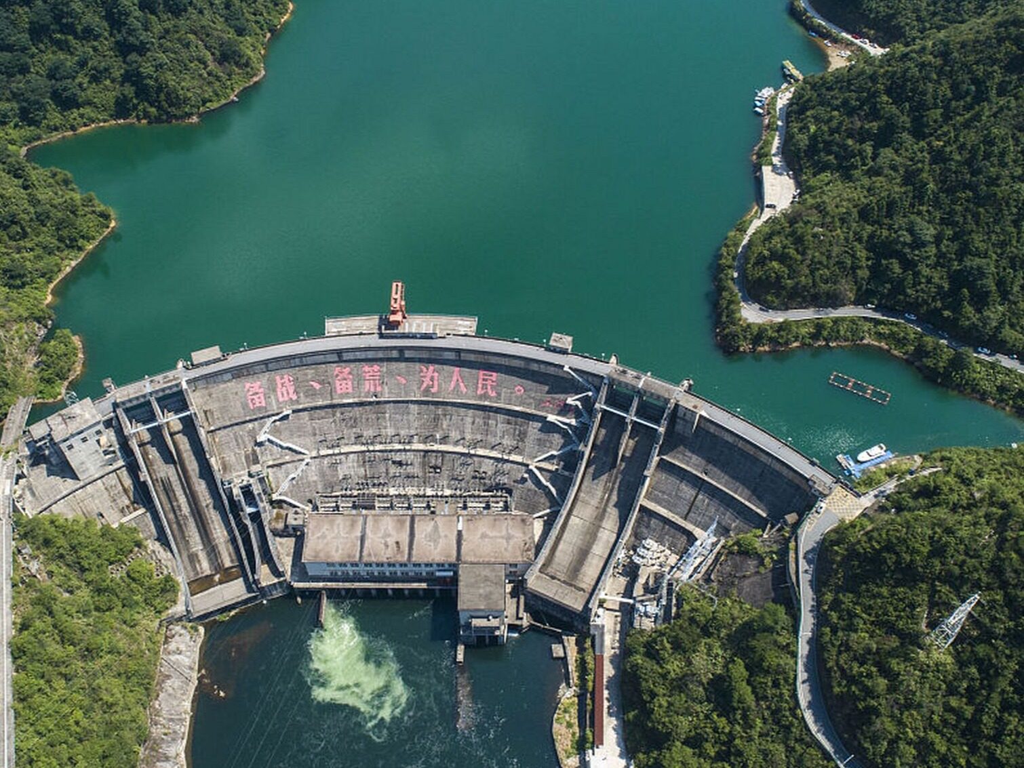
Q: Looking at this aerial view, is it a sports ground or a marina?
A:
marina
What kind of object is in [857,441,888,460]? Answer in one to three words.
boat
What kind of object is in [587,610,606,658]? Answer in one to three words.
shed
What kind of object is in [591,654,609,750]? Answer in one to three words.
building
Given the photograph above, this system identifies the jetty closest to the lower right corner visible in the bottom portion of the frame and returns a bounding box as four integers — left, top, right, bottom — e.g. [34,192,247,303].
[843,452,894,479]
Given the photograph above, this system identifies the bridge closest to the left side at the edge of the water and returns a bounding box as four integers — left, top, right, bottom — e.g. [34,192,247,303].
[0,389,39,455]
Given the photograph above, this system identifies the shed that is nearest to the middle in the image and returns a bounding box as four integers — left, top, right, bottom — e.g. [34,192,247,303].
[547,332,573,357]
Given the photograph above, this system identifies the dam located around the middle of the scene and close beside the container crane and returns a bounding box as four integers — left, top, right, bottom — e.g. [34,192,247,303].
[0,334,837,565]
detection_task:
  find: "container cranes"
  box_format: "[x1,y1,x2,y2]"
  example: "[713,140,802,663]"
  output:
[389,276,408,325]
